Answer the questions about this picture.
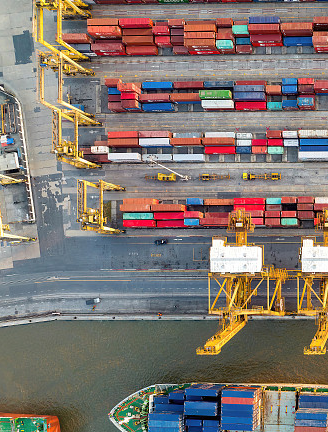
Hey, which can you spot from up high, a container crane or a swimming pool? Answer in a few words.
container crane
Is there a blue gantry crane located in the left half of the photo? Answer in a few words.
No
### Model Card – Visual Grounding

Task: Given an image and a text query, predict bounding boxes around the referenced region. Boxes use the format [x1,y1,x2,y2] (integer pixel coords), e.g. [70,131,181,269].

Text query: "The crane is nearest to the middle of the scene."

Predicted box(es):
[80,179,128,235]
